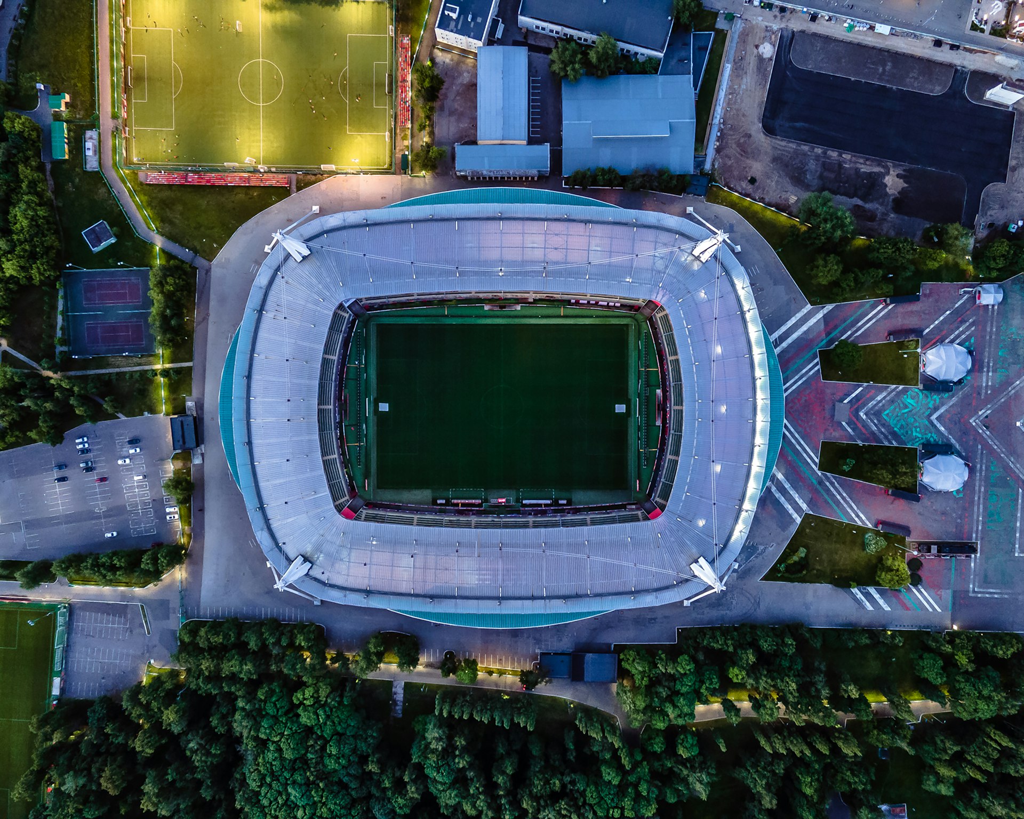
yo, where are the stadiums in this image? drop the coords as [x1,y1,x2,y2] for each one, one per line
[218,187,785,629]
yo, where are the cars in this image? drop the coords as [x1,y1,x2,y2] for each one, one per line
[522,685,533,691]
[79,461,91,467]
[52,465,65,470]
[54,477,66,482]
[81,467,94,473]
[165,507,176,512]
[133,474,145,480]
[104,532,116,538]
[166,515,177,520]
[75,443,88,449]
[127,439,139,445]
[95,477,106,483]
[76,449,89,455]
[128,448,140,454]
[117,458,129,464]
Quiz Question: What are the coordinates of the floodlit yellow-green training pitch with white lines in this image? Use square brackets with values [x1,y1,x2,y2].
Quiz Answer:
[115,0,396,171]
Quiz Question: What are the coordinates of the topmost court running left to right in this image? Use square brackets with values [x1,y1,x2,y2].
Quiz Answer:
[63,269,152,313]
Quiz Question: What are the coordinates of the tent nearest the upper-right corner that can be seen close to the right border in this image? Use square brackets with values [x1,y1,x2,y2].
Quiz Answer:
[977,283,1009,304]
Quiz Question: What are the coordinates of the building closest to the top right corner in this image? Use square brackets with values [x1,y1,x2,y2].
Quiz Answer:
[985,77,1024,112]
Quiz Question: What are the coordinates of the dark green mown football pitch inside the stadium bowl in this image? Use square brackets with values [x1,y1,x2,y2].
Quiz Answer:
[365,315,640,505]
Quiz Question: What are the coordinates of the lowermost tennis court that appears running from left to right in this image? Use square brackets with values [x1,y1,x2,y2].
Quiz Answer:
[66,309,156,355]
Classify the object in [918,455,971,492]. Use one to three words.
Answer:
tent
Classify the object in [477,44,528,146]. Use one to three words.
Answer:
building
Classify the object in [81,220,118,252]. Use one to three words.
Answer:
shed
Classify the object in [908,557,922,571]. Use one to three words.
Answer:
umbrella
